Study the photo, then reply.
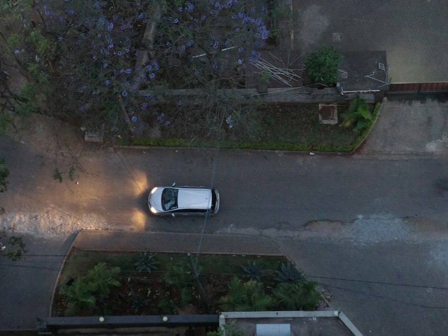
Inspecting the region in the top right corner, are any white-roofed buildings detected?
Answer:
No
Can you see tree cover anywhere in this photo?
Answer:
Yes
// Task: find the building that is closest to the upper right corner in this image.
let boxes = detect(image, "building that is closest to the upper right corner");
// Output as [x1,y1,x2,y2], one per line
[338,50,387,101]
